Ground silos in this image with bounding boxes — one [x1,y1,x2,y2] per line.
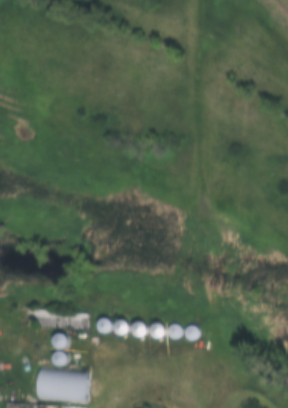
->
[52,350,71,368]
[96,317,114,334]
[184,324,202,342]
[130,321,149,340]
[148,322,167,340]
[167,324,184,340]
[112,320,131,337]
[51,332,70,350]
